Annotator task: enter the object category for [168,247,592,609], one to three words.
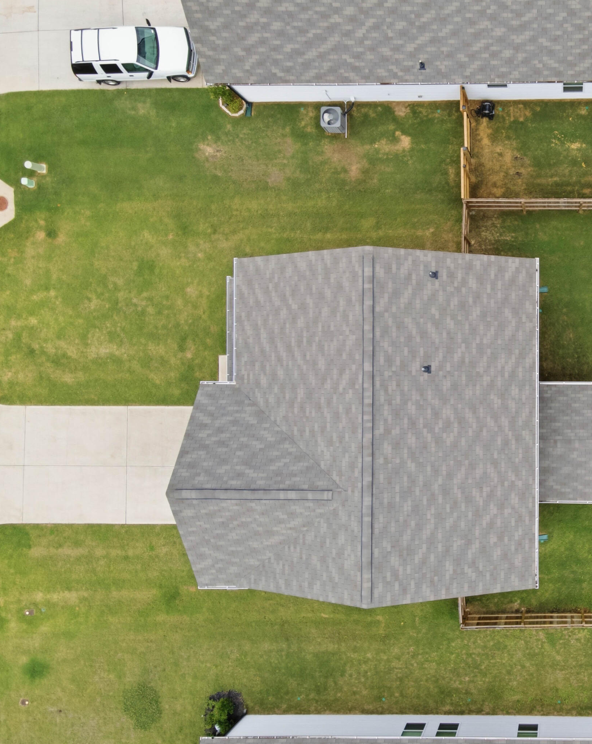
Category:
house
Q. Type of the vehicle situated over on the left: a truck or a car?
car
